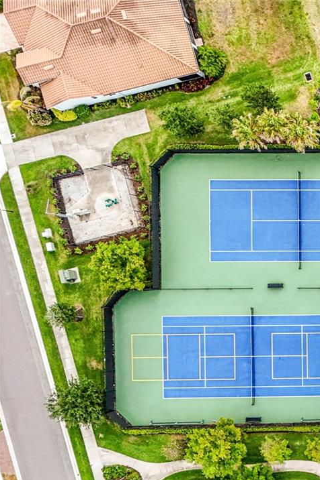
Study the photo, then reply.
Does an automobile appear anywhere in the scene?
No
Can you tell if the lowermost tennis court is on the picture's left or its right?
right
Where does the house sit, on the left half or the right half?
left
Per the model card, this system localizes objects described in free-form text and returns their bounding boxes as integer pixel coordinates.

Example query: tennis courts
[114,289,320,427]
[161,154,320,289]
